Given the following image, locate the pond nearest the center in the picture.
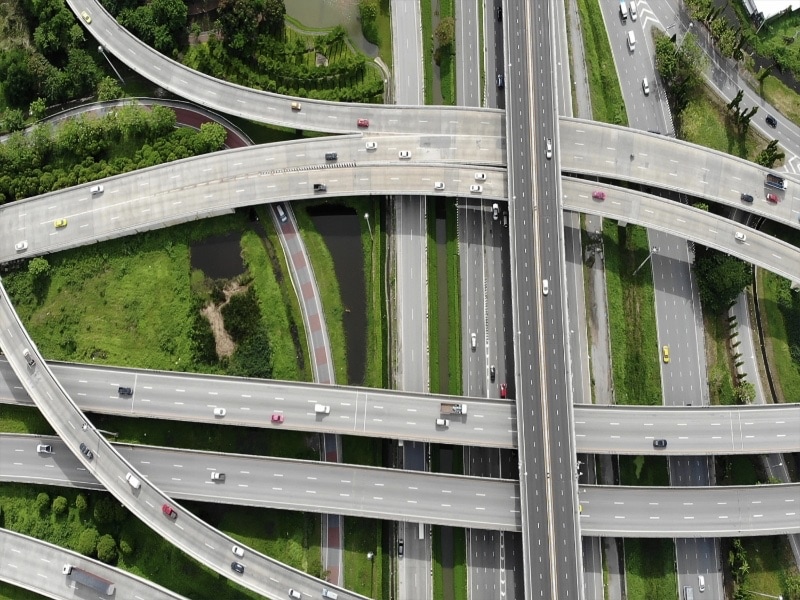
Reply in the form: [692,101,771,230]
[306,196,369,388]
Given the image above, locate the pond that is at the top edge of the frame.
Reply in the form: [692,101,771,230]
[284,0,380,59]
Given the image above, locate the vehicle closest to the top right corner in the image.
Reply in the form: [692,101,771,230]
[764,115,778,127]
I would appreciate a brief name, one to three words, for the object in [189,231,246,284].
pond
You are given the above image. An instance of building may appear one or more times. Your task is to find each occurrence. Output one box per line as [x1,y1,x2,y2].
[314,52,327,69]
[738,0,800,23]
